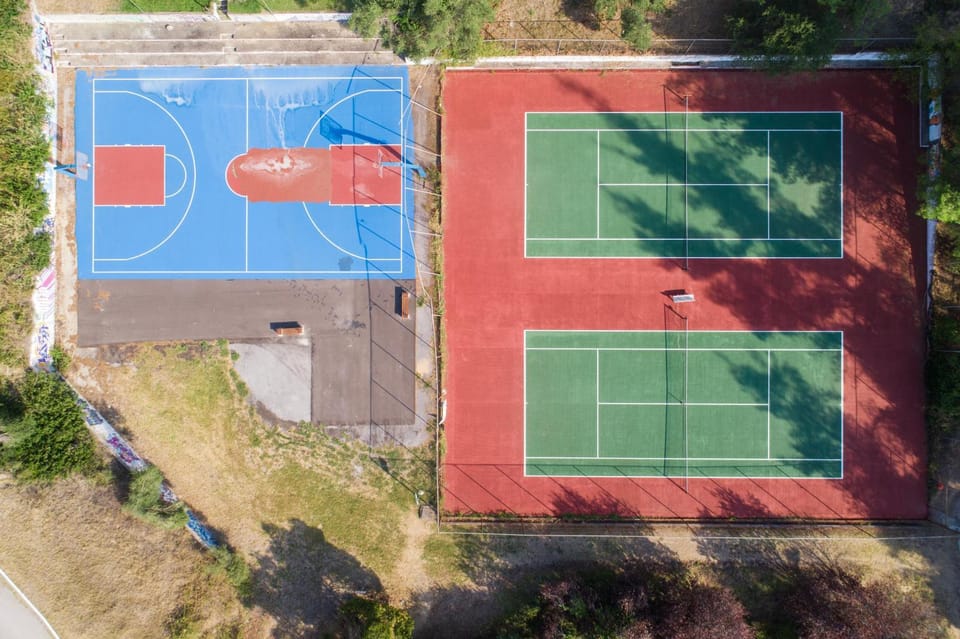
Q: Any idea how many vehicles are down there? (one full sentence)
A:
The picture shows no vehicles.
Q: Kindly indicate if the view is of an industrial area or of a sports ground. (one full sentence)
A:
This image shows a sports ground.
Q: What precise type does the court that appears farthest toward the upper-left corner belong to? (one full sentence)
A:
The court that appears farthest toward the upper-left corner is a basketball court.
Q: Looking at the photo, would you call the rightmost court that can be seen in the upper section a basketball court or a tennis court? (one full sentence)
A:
I'd say the rightmost court that can be seen in the upper section is a tennis court.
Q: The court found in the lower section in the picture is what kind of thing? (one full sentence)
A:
I'd identify the court found in the lower section as a tennis court.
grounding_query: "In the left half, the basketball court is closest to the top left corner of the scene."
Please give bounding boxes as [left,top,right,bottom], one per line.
[75,67,415,280]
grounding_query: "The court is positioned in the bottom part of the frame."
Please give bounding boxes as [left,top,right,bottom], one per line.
[524,331,843,478]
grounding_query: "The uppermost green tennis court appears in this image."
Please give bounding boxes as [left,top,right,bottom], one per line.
[525,111,843,259]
